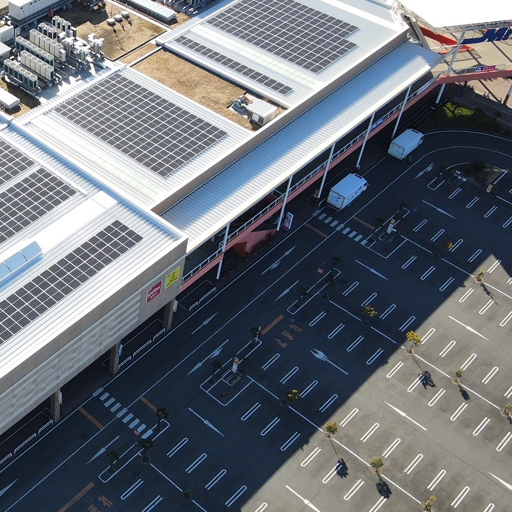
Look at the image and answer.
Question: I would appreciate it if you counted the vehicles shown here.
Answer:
2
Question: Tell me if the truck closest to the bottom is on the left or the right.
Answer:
right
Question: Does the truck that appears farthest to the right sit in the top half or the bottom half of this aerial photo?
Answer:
top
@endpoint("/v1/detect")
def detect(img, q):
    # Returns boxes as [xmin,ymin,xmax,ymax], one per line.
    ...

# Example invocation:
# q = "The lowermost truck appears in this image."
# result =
[330,168,374,207]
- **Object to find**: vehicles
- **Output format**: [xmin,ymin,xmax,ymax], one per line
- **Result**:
[330,168,374,207]
[390,120,430,156]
